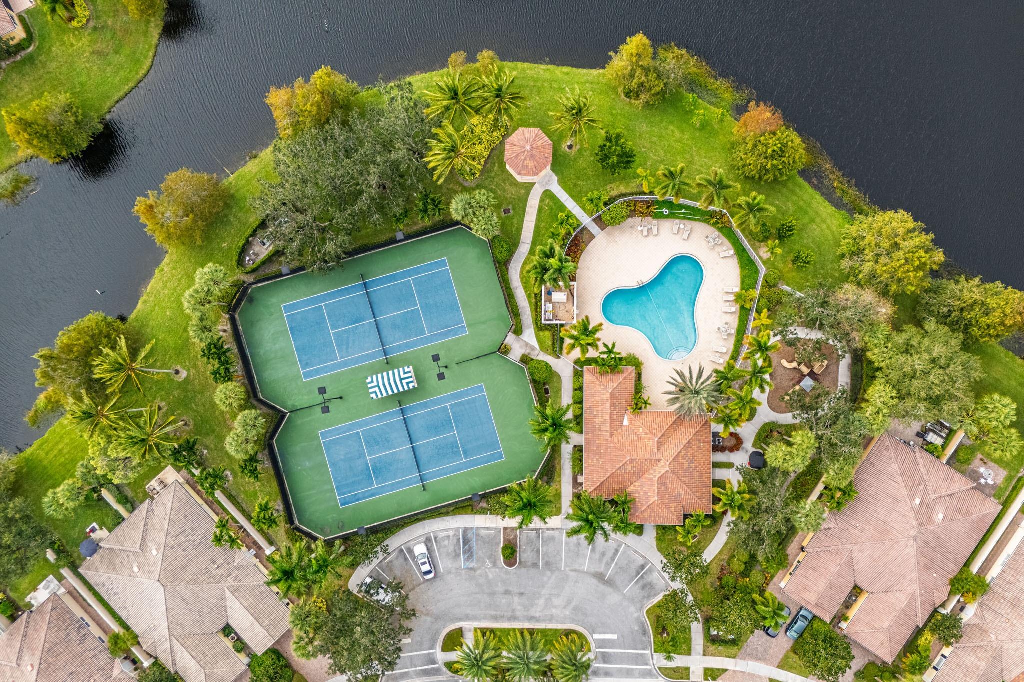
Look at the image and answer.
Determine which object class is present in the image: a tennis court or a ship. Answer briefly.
tennis court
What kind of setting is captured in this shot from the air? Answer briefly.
residential area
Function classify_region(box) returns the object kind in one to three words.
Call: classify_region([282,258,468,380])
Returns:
tennis court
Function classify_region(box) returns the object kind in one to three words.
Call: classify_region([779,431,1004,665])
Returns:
house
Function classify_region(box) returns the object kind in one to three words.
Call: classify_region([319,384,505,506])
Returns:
tennis court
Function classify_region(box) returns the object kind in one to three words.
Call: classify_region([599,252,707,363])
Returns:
swimming pool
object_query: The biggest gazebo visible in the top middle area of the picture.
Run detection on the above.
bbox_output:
[504,128,552,180]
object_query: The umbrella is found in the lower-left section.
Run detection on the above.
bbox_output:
[81,538,101,557]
